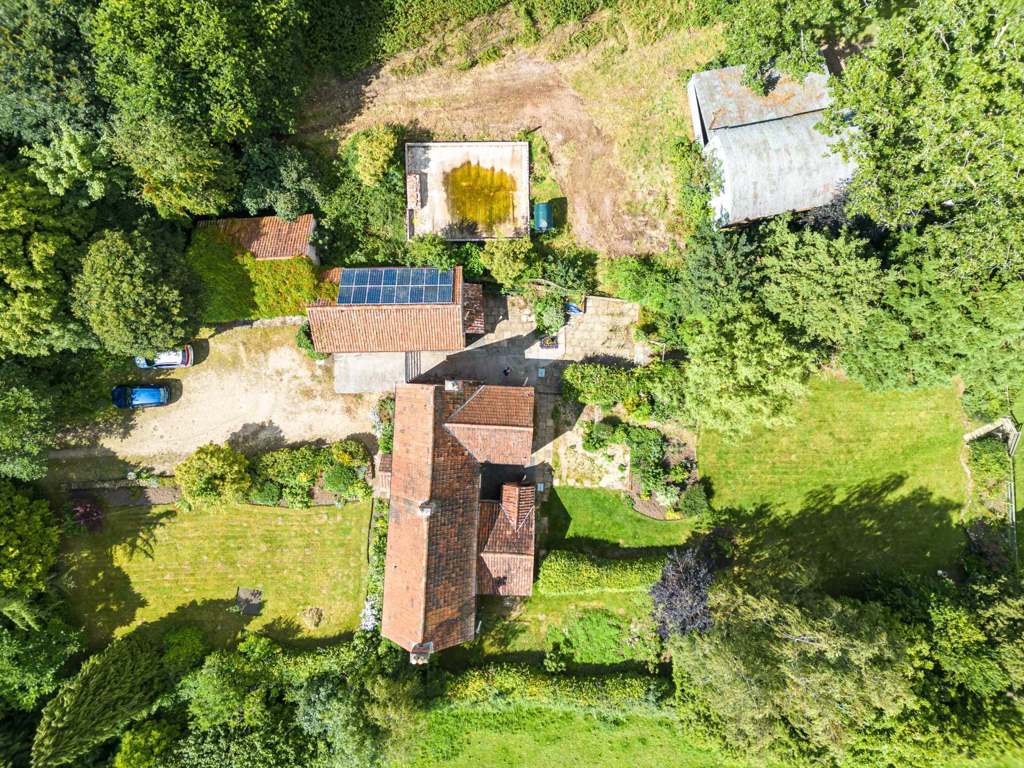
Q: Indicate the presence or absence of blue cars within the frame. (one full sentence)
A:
Yes, I can see a blue car in this picture.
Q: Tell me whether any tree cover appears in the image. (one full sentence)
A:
Yes, tree cover can be seen from above here.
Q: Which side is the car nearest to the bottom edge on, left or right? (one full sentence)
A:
The car nearest to the bottom edge sits on the left side.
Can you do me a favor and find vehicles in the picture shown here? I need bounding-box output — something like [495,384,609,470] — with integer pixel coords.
[137,343,195,371]
[113,383,172,411]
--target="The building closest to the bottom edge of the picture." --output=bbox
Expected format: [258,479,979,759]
[378,377,535,664]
